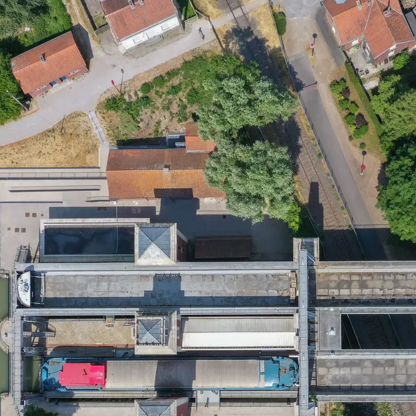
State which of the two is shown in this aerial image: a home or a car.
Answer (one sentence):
I can see a home in this picture.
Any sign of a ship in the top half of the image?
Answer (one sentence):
No, I see no ship in the top half of the image.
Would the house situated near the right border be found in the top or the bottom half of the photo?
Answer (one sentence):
It is in the top half that the house situated near the right border appears.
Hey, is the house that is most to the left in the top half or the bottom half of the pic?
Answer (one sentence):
Seen from above, the house that is most to the left lies in the top half of the view.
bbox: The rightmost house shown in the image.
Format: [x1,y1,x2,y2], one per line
[322,0,416,64]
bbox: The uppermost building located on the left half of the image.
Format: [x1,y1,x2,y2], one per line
[100,0,181,51]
